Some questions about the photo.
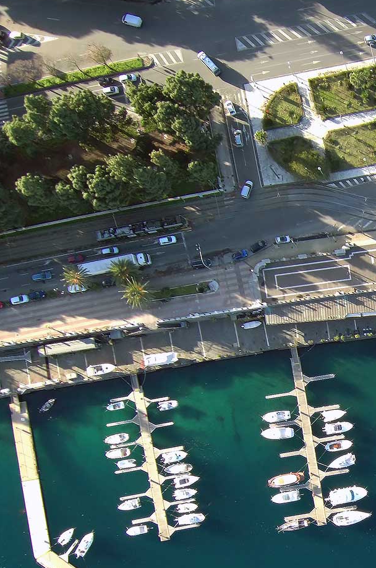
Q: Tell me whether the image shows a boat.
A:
Yes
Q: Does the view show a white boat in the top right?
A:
No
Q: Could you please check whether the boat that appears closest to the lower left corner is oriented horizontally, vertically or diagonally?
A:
diagonally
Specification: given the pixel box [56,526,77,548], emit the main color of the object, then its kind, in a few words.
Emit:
white boat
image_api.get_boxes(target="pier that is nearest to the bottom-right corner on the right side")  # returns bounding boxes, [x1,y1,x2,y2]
[265,348,357,525]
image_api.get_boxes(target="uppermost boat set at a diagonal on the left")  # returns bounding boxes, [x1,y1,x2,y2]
[39,399,57,414]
